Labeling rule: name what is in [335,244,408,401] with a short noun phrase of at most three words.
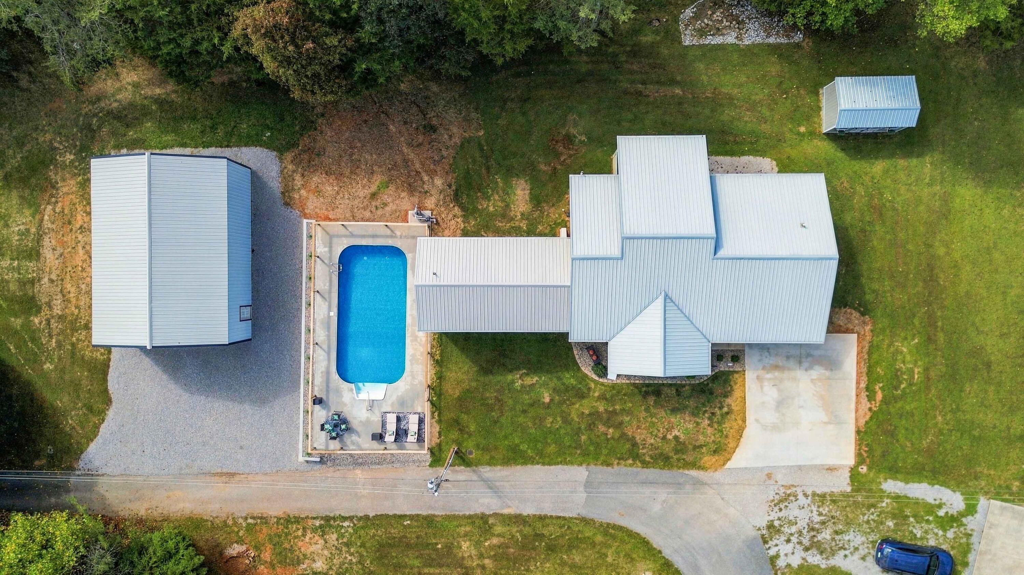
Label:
swimming pool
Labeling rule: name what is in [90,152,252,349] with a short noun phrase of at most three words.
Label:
building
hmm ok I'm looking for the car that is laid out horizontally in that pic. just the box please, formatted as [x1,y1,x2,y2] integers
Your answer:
[875,539,955,575]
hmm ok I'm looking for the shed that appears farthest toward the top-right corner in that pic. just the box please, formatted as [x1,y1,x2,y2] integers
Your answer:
[823,76,922,136]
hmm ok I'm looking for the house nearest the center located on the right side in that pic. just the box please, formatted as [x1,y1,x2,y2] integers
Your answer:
[414,133,840,378]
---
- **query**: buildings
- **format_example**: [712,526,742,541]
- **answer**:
[90,152,252,349]
[414,133,840,378]
[823,76,922,136]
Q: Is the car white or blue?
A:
blue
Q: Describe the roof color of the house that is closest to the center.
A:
white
